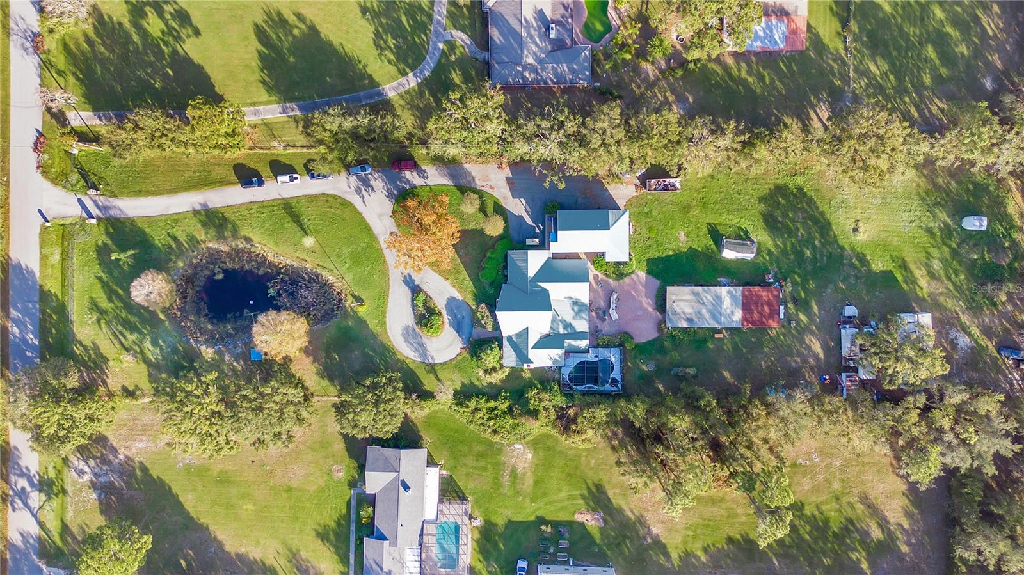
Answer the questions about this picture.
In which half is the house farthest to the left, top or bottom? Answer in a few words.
bottom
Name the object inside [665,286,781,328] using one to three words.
shed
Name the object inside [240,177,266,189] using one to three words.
vehicle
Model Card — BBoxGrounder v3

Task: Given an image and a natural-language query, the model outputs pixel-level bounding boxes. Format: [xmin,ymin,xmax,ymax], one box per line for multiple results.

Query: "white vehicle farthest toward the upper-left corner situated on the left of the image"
[276,173,301,185]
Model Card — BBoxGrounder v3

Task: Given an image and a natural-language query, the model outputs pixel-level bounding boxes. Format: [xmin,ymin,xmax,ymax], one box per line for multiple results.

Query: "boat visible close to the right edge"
[961,216,992,230]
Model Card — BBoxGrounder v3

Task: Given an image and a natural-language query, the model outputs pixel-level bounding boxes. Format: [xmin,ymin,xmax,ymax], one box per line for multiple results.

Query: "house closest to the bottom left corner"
[363,445,440,575]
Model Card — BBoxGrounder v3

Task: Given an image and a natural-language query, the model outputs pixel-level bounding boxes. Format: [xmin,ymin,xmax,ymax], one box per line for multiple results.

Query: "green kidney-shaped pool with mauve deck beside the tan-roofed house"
[580,0,613,44]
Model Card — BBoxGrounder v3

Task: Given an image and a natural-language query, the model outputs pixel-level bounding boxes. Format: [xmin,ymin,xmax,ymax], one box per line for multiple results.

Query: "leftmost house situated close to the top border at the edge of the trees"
[481,0,592,87]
